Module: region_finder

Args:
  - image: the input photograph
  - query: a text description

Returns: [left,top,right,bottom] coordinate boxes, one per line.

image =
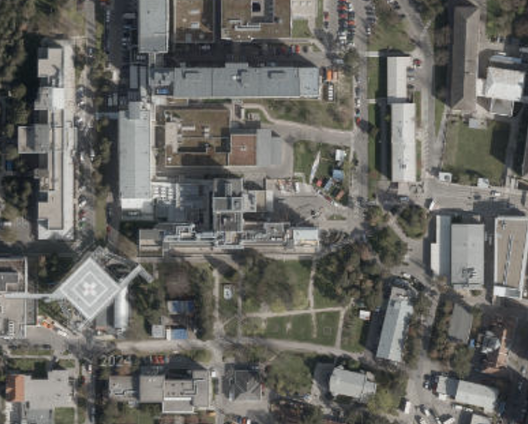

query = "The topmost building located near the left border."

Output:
[18,40,75,239]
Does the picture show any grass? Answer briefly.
Yes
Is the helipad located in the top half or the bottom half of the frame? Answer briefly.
bottom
